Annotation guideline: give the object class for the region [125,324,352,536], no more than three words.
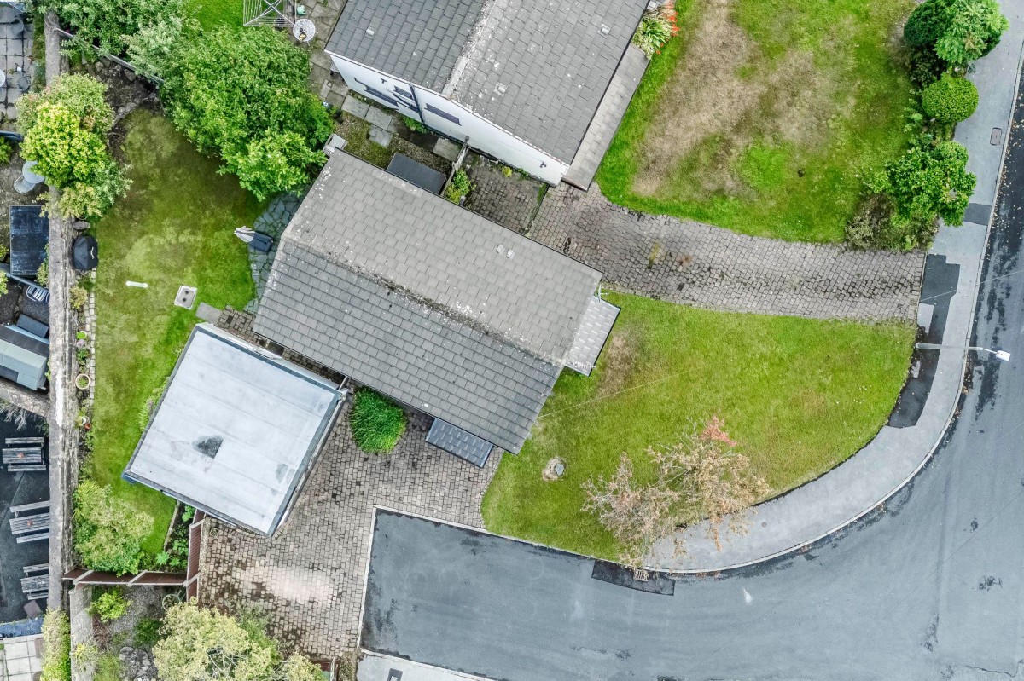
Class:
building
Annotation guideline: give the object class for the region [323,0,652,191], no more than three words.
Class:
house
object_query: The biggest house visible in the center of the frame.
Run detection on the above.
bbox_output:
[254,150,622,469]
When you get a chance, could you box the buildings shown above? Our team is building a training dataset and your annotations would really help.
[323,0,652,191]
[125,324,352,536]
[0,323,51,390]
[254,150,622,469]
